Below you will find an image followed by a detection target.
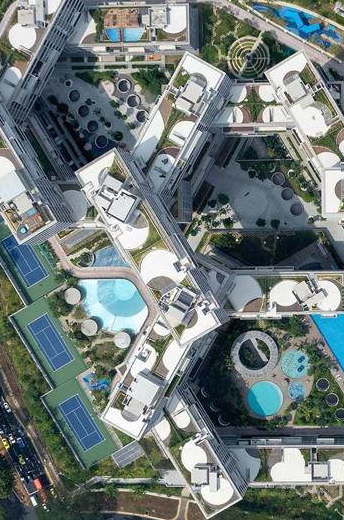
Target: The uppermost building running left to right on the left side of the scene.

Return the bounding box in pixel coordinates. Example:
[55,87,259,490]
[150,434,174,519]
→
[54,4,196,62]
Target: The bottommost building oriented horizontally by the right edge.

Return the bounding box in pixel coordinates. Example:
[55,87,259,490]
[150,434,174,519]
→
[218,435,344,485]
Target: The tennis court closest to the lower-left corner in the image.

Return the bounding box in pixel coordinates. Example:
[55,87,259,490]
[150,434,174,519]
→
[37,378,121,472]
